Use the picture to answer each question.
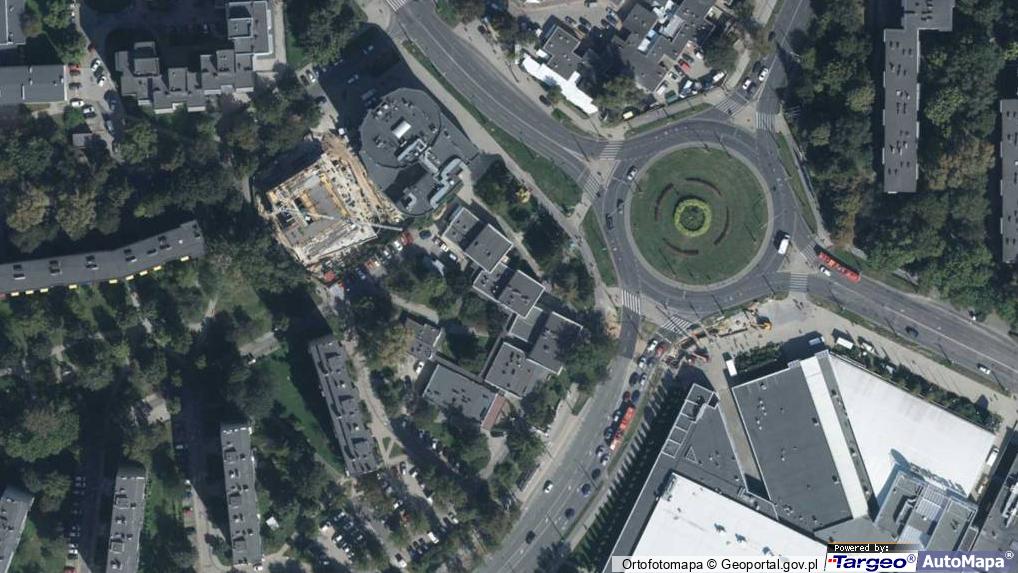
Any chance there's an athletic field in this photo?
No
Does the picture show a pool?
No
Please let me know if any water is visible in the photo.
No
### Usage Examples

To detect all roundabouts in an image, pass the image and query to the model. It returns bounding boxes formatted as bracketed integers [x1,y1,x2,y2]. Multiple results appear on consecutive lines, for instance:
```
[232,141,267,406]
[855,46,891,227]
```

[602,118,796,312]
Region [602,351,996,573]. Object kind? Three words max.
building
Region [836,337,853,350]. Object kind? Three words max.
vehicle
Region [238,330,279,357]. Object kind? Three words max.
shed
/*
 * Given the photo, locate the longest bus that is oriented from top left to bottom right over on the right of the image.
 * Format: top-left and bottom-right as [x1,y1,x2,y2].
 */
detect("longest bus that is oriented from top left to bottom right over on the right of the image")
[818,252,861,283]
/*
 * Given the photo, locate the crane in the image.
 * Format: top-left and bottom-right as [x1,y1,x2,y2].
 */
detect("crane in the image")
[277,207,402,238]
